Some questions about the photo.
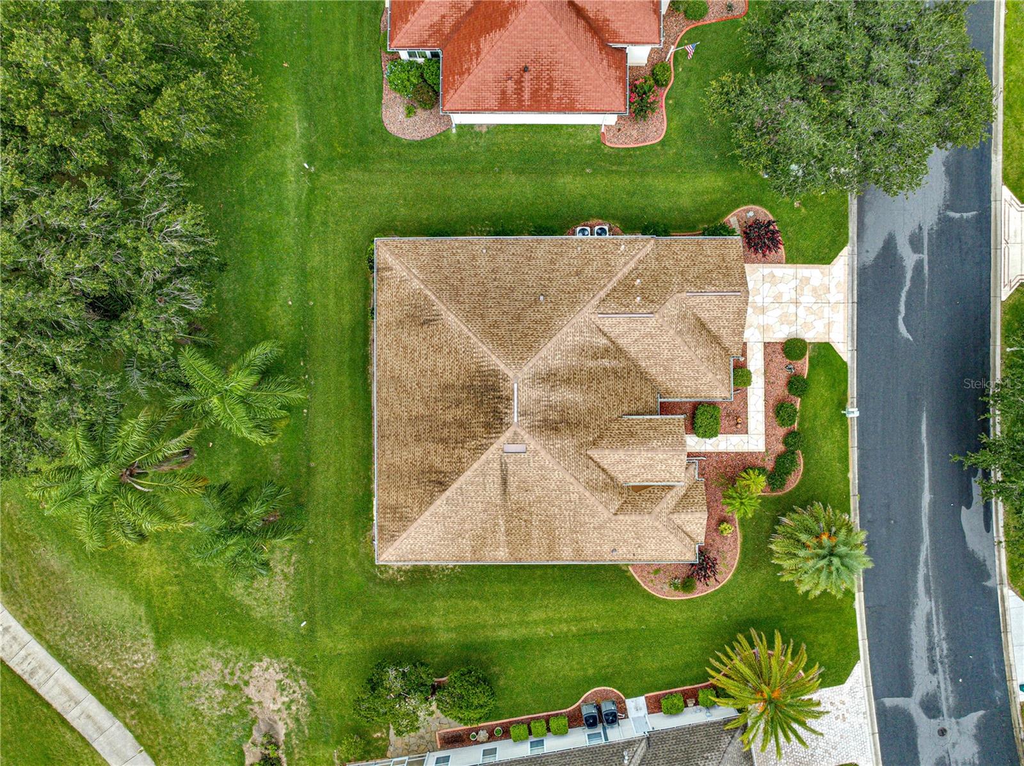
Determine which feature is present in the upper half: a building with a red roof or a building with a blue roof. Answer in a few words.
building with a red roof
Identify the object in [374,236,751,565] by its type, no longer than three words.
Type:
house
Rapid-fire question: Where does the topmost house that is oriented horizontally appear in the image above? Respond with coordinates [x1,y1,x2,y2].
[387,0,663,134]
